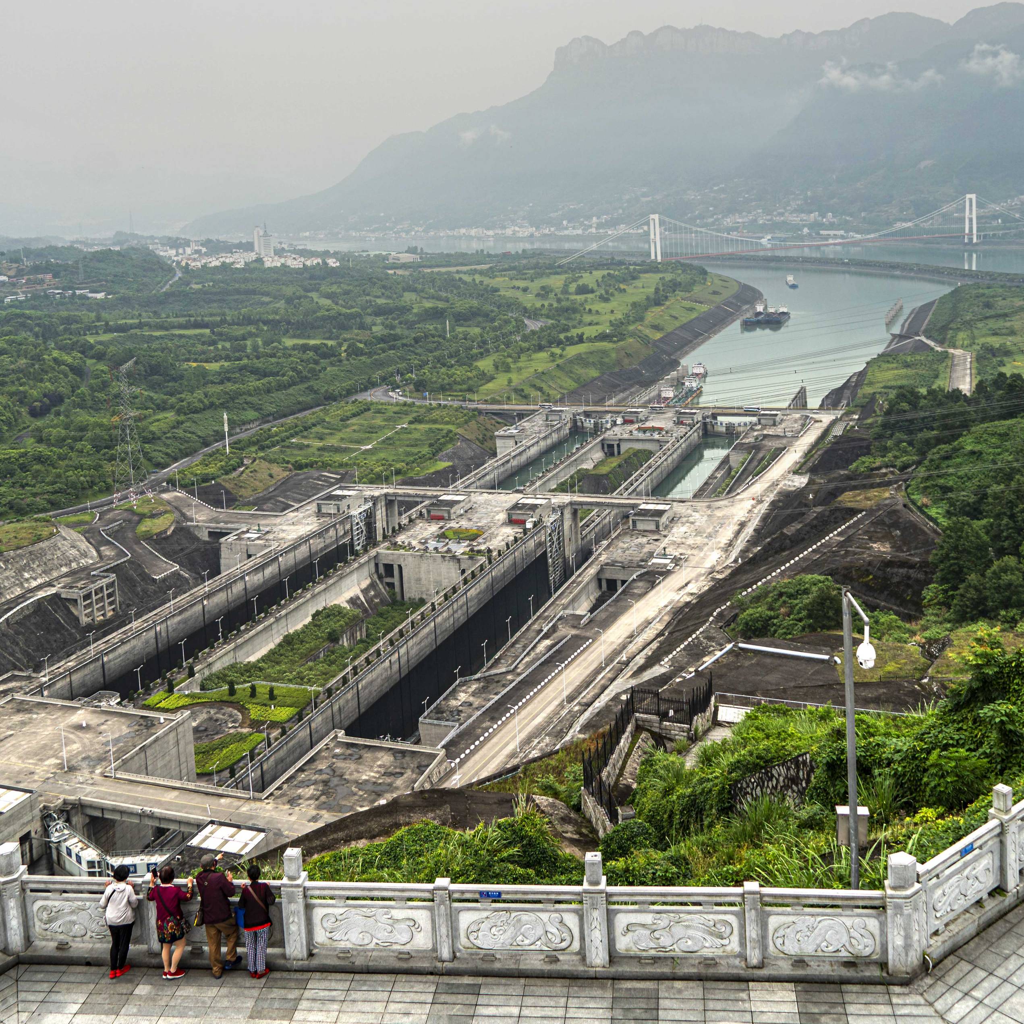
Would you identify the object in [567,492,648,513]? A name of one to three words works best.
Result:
bridge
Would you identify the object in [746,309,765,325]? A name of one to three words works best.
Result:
ship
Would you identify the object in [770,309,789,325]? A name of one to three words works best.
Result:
ship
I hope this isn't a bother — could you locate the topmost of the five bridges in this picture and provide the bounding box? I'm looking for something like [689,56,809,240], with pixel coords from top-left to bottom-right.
[524,195,1024,268]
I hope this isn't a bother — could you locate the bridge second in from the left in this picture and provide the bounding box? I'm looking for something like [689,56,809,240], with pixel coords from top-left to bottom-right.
[388,484,463,502]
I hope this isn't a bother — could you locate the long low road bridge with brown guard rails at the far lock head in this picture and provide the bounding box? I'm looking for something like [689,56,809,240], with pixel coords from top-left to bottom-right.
[493,402,845,424]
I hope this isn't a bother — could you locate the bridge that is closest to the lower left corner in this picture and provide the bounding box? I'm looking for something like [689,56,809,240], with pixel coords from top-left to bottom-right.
[71,769,259,832]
